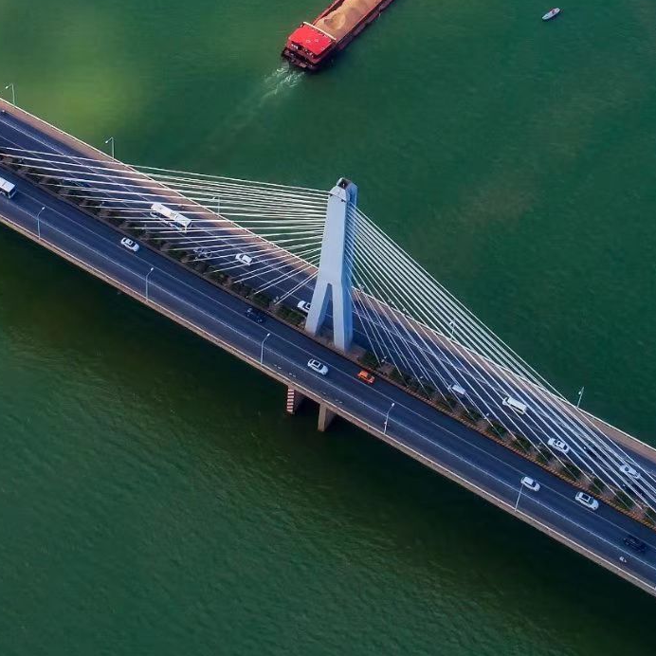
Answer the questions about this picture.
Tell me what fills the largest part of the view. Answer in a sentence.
The largest share of the image is taken up by water.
